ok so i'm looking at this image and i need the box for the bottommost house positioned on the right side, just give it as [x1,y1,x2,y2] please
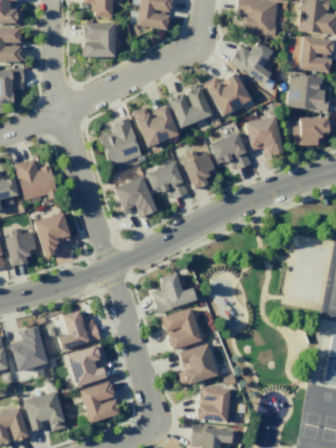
[190,424,234,448]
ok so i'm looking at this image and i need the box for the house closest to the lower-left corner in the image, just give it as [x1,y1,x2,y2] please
[0,407,28,446]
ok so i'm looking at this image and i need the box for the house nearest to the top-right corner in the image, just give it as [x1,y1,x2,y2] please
[299,0,336,34]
